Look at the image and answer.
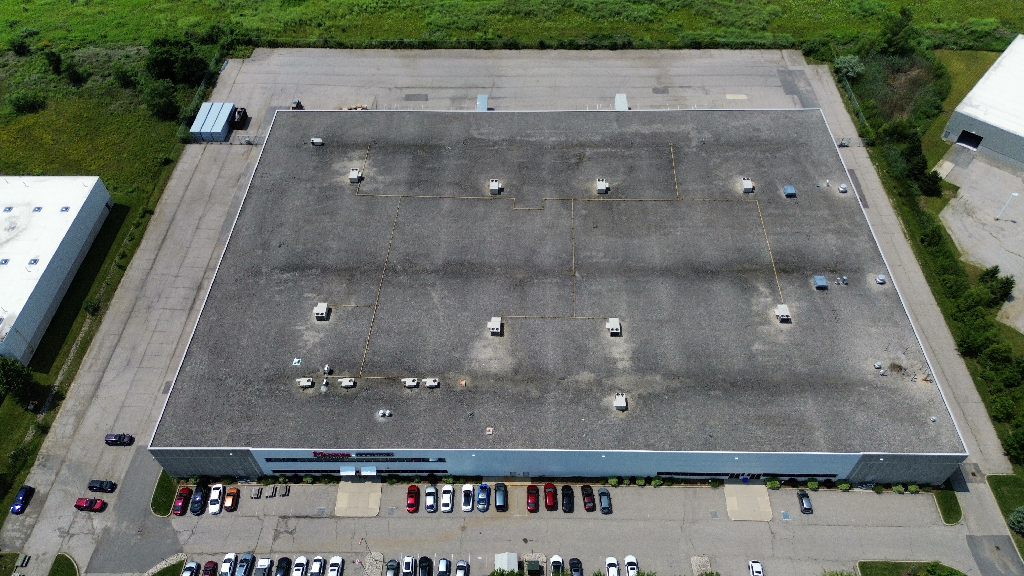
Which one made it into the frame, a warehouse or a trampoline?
warehouse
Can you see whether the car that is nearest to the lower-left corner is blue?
Yes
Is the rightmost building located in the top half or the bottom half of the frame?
top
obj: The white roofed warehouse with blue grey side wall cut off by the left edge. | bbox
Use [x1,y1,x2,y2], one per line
[0,176,116,361]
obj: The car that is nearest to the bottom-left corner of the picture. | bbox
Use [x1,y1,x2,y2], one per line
[11,487,32,512]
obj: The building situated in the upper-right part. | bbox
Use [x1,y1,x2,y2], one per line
[941,36,1024,172]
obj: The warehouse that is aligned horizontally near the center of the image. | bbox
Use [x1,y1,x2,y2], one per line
[148,108,970,490]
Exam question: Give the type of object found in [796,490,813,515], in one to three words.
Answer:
car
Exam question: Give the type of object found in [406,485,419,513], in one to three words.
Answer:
vehicle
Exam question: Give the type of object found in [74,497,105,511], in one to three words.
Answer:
car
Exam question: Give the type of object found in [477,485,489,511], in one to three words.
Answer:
vehicle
